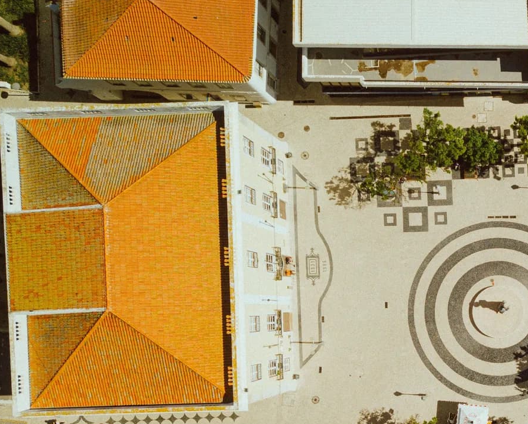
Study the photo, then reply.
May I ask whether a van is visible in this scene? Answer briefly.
No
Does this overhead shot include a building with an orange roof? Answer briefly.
Yes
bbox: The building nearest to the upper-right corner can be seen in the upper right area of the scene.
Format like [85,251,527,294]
[293,0,528,102]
